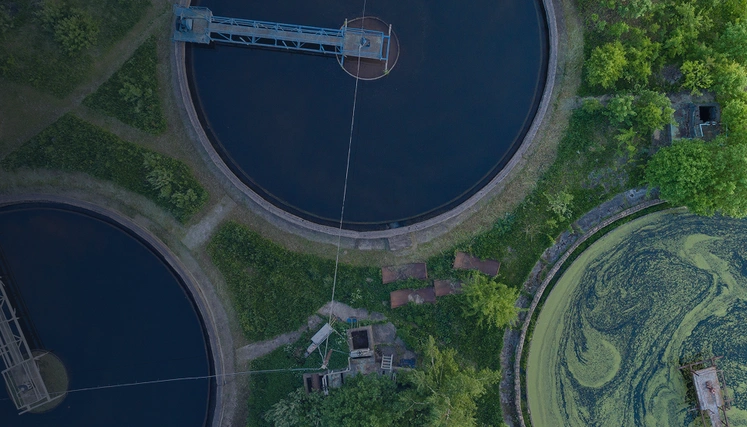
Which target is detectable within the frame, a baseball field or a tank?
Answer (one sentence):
Visible in the photo is a tank.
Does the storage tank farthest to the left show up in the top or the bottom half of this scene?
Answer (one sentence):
The bottom half of the photo is where the storage tank farthest to the left is.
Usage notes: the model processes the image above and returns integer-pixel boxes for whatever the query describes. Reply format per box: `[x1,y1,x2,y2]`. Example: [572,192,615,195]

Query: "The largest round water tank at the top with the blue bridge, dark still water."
[175,0,557,238]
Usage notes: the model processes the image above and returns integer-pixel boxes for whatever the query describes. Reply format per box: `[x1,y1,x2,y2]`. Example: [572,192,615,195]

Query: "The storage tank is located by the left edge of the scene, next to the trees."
[0,193,226,427]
